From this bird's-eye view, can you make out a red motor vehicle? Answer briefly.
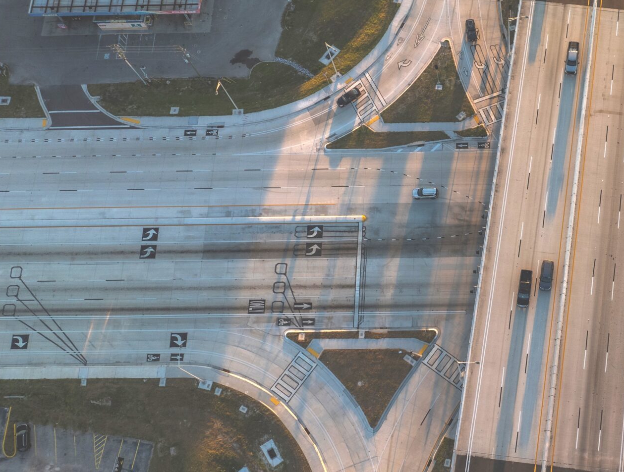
No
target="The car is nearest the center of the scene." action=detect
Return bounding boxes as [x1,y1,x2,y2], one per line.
[413,187,439,200]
